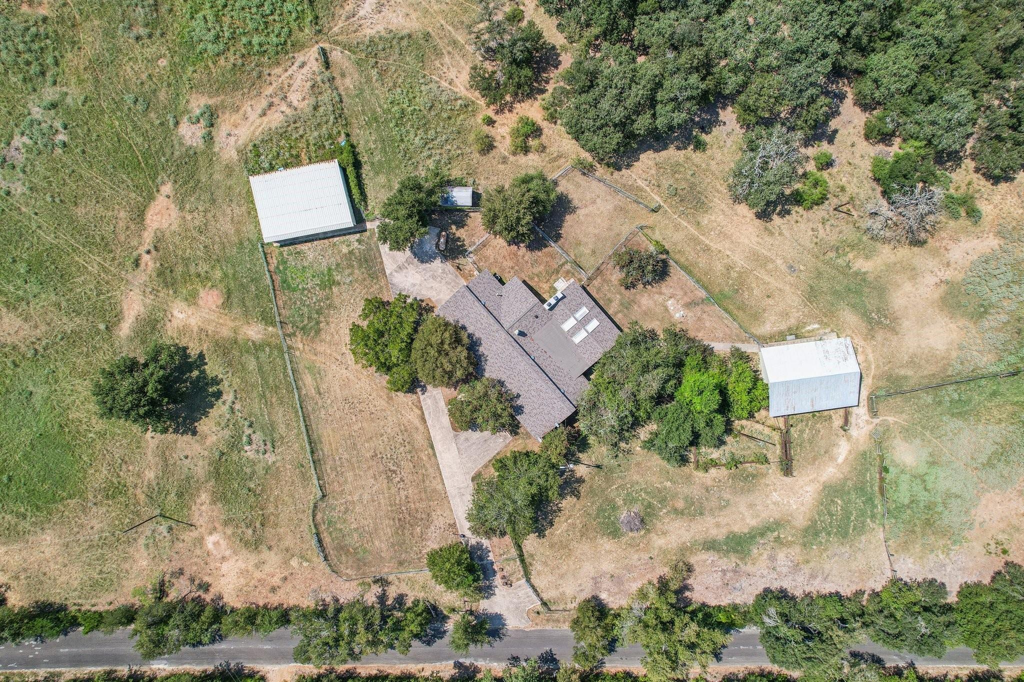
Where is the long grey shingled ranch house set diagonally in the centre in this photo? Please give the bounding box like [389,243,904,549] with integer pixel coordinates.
[436,269,617,438]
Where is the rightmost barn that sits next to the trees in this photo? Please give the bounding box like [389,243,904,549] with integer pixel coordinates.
[754,338,860,417]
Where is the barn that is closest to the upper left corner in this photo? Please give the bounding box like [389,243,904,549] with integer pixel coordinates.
[249,160,360,243]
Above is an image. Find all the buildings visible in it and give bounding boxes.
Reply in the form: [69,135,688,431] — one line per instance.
[754,338,860,417]
[249,160,360,243]
[436,269,617,438]
[440,187,472,207]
